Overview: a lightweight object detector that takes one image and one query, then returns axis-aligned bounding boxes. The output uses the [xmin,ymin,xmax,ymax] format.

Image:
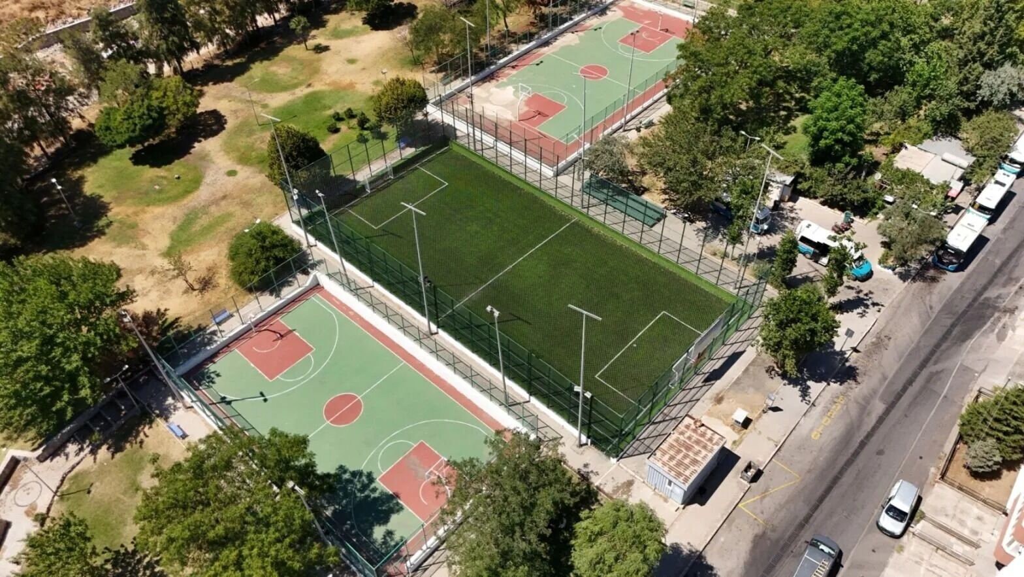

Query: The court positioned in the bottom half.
[191,284,530,577]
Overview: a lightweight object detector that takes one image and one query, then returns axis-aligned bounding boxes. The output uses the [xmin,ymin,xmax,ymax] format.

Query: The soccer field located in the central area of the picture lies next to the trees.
[298,137,760,464]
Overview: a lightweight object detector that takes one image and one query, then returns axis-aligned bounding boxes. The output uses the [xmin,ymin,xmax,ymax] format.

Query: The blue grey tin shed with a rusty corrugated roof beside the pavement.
[648,413,727,501]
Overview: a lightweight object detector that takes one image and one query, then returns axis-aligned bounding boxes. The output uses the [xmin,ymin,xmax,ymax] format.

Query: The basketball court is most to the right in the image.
[435,2,707,167]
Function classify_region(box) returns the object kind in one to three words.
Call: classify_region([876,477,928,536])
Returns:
car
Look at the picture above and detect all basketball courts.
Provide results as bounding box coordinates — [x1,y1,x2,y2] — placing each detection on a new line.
[435,2,707,167]
[191,284,530,577]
